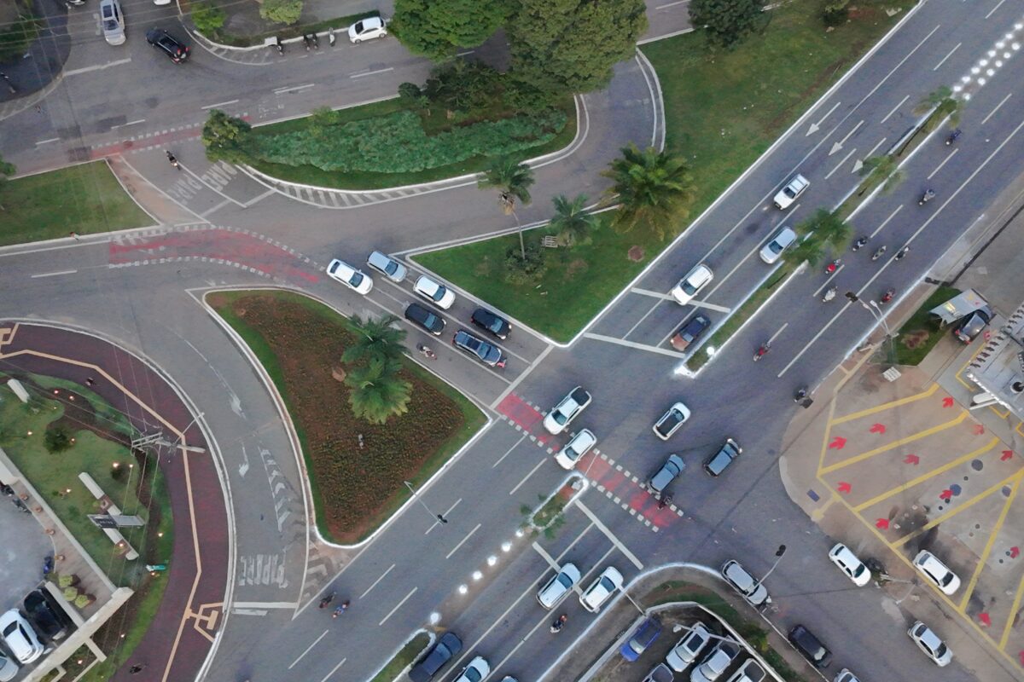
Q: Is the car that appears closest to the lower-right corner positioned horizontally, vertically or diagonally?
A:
diagonally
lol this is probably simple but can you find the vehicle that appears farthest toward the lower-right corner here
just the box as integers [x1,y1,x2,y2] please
[902,617,954,670]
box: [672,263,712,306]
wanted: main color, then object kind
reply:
white car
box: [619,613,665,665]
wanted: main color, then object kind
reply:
blue truck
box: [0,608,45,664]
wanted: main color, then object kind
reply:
white car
